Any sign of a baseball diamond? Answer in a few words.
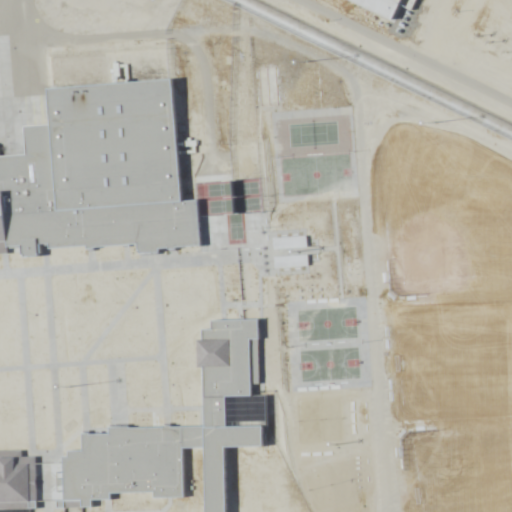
Yes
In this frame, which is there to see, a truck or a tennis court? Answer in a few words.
tennis court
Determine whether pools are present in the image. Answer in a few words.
No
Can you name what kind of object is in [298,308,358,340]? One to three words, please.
basketball court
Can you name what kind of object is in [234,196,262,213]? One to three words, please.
sports court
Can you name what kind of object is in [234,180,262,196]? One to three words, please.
sports court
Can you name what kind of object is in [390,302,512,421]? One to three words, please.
sports field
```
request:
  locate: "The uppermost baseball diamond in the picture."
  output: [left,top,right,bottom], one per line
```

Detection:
[370,125,512,306]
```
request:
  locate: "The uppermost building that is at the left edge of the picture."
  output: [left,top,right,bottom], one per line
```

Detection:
[0,80,202,256]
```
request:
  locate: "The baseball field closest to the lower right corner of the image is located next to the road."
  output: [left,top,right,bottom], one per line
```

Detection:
[404,419,512,512]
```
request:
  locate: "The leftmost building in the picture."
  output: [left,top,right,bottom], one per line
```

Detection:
[0,450,38,508]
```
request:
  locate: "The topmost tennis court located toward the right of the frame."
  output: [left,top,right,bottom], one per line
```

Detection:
[278,114,352,160]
